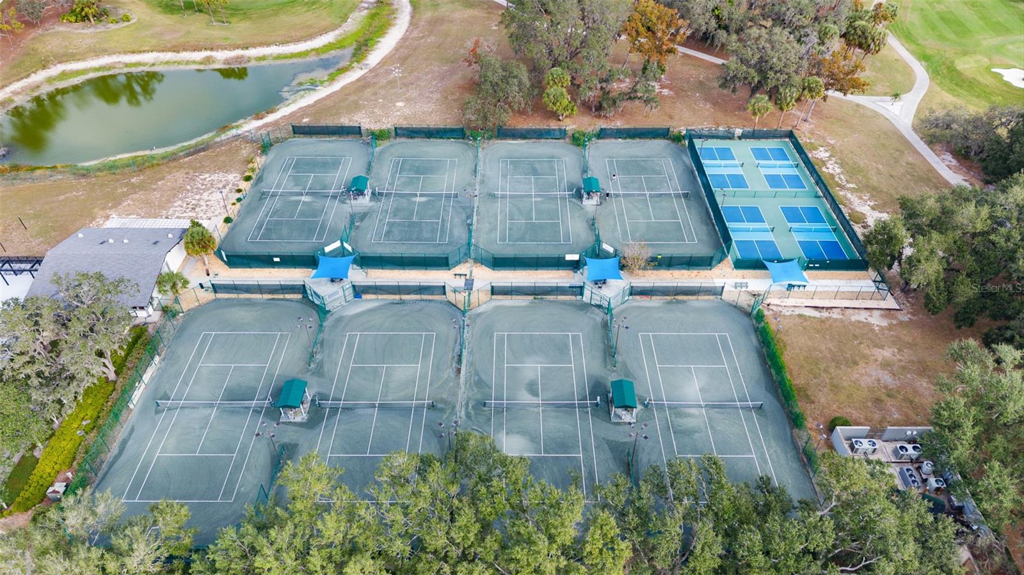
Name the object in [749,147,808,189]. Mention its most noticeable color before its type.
blue sports court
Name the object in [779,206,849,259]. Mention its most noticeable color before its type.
blue sports court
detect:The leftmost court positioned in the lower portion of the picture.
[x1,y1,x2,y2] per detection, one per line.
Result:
[76,300,326,548]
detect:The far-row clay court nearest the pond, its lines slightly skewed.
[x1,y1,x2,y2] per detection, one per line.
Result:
[220,138,374,262]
